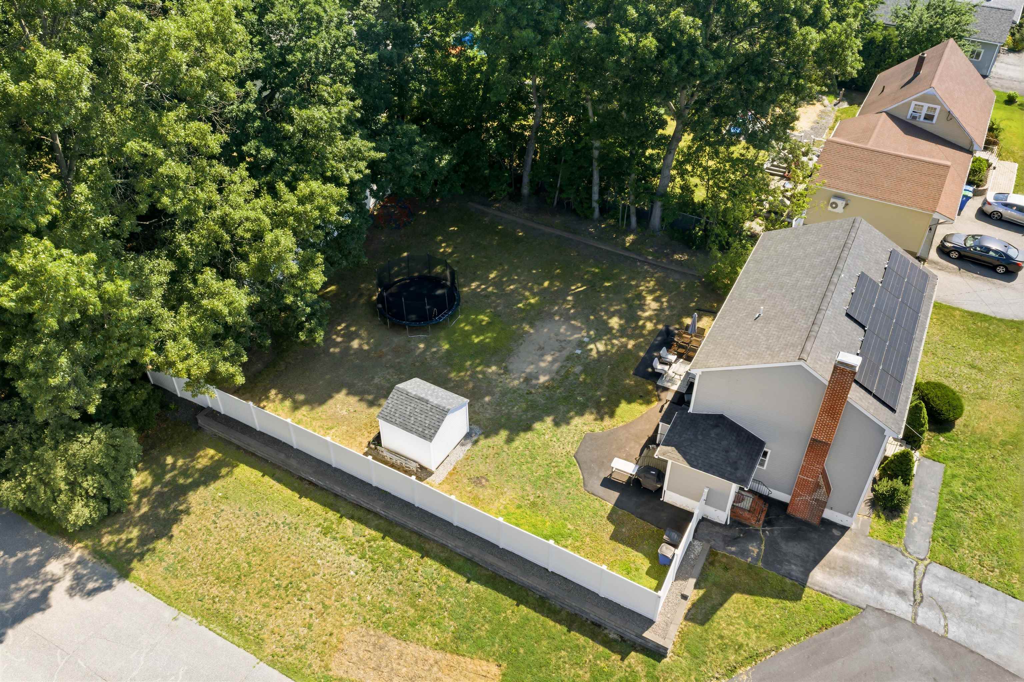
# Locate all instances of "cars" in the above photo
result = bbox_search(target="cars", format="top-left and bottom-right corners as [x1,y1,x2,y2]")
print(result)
[982,193,1024,226]
[939,231,1024,273]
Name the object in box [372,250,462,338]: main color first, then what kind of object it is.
black trampoline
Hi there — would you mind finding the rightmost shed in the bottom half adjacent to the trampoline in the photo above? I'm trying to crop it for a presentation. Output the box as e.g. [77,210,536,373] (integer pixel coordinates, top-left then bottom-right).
[375,379,471,471]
